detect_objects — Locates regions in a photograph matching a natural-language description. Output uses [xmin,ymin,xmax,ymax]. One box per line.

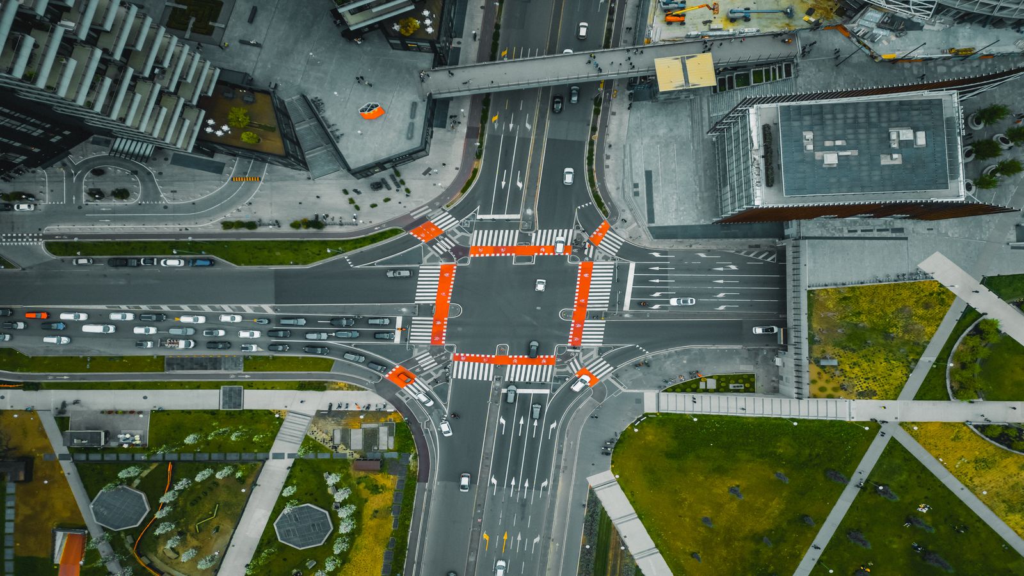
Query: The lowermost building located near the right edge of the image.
[698,63,1024,225]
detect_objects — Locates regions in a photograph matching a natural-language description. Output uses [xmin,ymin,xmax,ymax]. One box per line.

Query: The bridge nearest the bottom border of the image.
[644,392,849,421]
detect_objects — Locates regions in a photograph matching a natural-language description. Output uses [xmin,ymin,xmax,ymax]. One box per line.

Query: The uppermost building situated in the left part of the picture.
[333,0,449,63]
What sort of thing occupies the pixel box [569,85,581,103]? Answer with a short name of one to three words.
vehicle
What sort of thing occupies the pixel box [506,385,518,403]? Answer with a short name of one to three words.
vehicle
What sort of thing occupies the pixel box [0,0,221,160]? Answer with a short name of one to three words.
building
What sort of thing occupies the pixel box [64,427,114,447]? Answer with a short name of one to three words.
building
